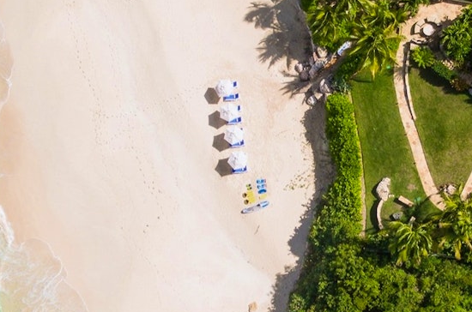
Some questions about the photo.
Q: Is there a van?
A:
No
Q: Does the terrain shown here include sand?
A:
Yes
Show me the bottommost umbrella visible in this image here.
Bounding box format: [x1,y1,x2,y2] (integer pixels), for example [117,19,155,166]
[229,149,247,169]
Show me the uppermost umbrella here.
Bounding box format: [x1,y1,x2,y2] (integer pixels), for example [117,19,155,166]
[216,80,237,98]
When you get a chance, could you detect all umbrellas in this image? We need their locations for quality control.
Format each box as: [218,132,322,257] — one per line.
[219,102,238,121]
[229,149,247,169]
[216,80,237,98]
[224,126,243,145]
